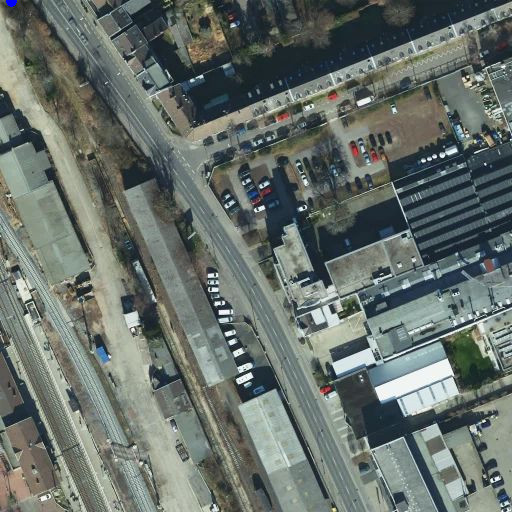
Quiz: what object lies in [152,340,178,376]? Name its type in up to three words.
shed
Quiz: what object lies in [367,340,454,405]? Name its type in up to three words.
building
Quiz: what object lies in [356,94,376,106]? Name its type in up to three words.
vehicle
